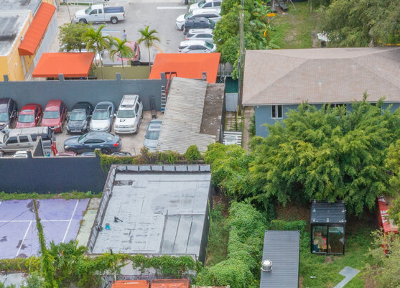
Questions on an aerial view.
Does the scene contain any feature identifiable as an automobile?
Yes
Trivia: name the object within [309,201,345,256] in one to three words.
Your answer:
building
